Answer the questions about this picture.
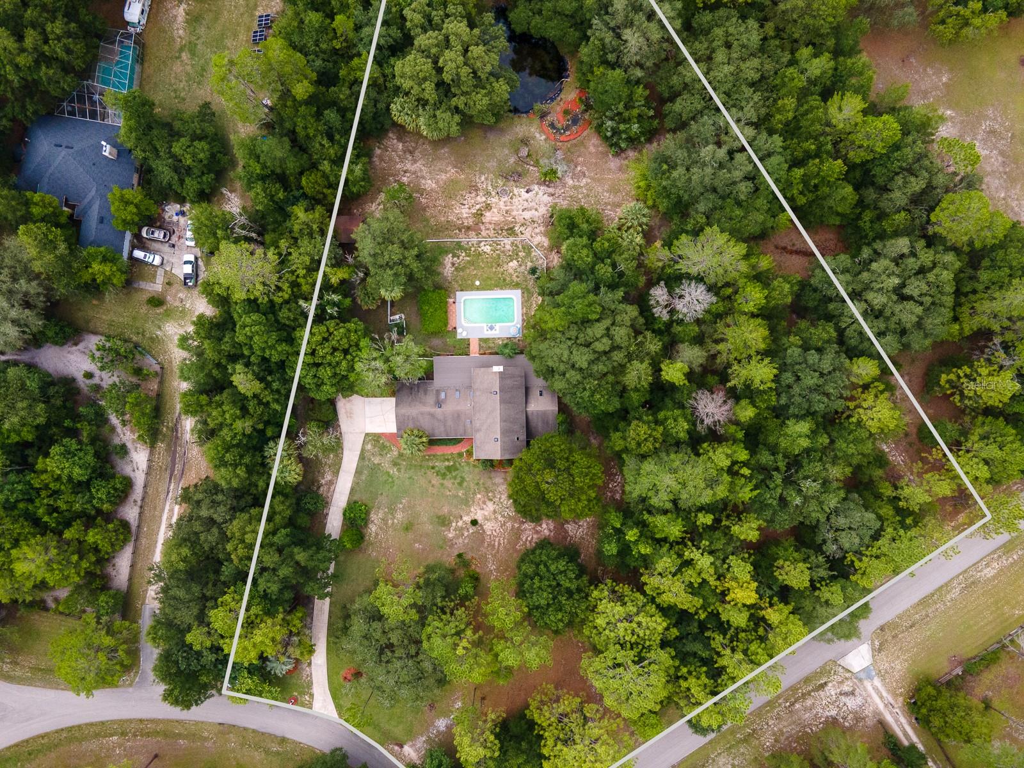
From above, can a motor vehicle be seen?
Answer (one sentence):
Yes, the image includes a motor vehicle.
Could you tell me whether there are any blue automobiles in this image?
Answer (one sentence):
No, there is no blue automobile in the image.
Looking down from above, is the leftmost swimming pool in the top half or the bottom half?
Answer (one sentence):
The top half of the photo is where the leftmost swimming pool is.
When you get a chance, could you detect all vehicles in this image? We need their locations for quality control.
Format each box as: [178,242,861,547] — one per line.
[141,226,171,243]
[132,249,164,266]
[185,220,199,247]
[124,0,148,38]
[182,254,198,288]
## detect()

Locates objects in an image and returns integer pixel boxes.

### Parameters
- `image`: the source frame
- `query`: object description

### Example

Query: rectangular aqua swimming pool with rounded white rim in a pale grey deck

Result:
[456,290,522,339]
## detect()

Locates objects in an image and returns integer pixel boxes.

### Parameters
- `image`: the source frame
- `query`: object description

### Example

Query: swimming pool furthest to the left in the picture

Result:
[64,28,145,122]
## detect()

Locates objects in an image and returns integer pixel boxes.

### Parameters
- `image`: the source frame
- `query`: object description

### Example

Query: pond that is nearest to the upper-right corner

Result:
[493,0,568,114]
